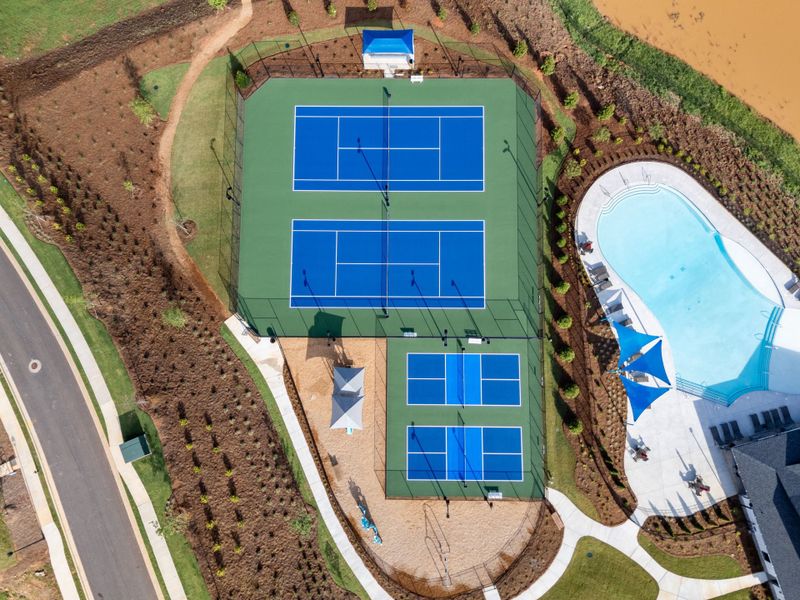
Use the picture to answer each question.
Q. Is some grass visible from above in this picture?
Yes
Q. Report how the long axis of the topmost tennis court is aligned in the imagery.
from side to side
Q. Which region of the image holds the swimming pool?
right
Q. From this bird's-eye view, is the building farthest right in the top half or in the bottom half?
bottom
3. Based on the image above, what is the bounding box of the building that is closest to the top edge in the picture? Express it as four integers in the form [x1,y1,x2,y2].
[362,30,415,68]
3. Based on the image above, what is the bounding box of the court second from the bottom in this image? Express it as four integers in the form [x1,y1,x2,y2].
[407,353,520,405]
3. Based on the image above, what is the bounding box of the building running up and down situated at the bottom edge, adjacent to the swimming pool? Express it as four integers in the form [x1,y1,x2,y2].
[723,423,800,600]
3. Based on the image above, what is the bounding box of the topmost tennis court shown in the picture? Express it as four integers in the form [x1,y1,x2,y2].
[293,106,484,191]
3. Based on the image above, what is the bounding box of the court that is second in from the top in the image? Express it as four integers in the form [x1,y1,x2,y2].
[290,220,486,309]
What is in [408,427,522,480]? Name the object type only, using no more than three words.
sports court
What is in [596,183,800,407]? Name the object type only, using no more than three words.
swimming pool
